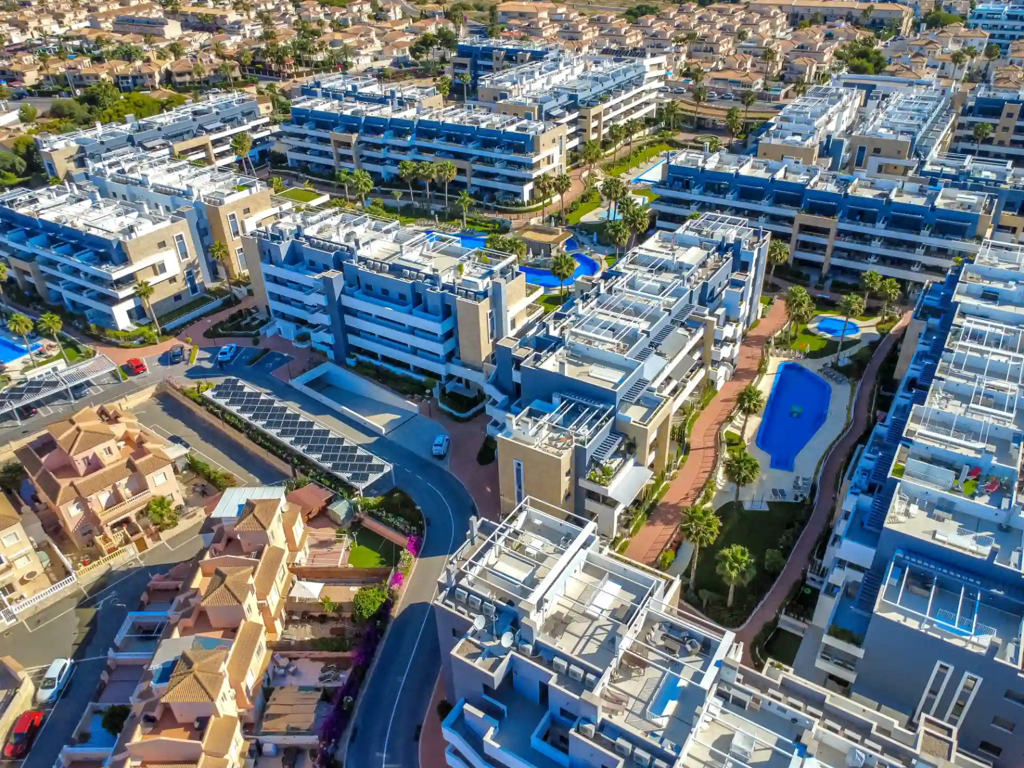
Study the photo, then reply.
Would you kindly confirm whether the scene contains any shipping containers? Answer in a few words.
No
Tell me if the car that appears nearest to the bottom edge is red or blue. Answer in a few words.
red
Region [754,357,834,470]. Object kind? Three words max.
swimming pool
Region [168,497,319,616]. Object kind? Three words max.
house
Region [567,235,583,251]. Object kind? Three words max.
swimming pool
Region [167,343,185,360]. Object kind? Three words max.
car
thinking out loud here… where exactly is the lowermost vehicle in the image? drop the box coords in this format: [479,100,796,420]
[0,708,43,759]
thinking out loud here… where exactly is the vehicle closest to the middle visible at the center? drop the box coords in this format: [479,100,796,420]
[429,433,452,456]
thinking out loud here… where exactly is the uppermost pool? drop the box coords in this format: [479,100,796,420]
[632,152,682,183]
